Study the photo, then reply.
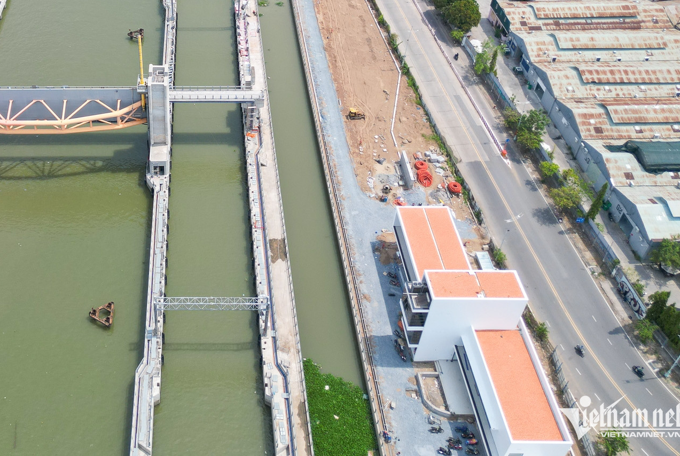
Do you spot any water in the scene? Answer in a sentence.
Yes, there's water in this view.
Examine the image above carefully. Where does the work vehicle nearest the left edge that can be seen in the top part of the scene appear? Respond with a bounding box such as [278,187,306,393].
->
[350,109,365,122]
